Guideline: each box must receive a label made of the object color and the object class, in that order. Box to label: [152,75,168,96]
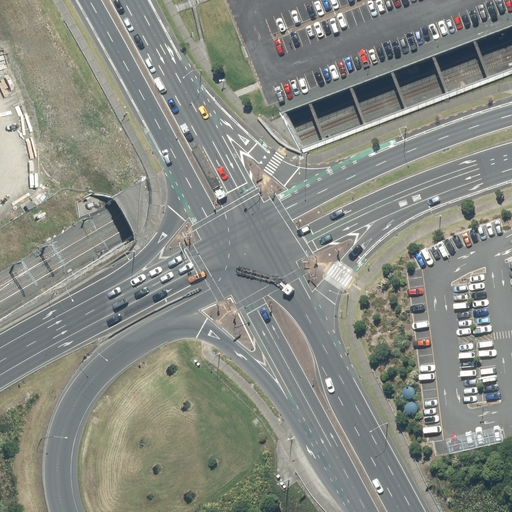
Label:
white vehicle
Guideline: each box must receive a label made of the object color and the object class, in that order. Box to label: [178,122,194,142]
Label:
white vehicle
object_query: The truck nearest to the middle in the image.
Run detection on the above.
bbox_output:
[238,264,292,295]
